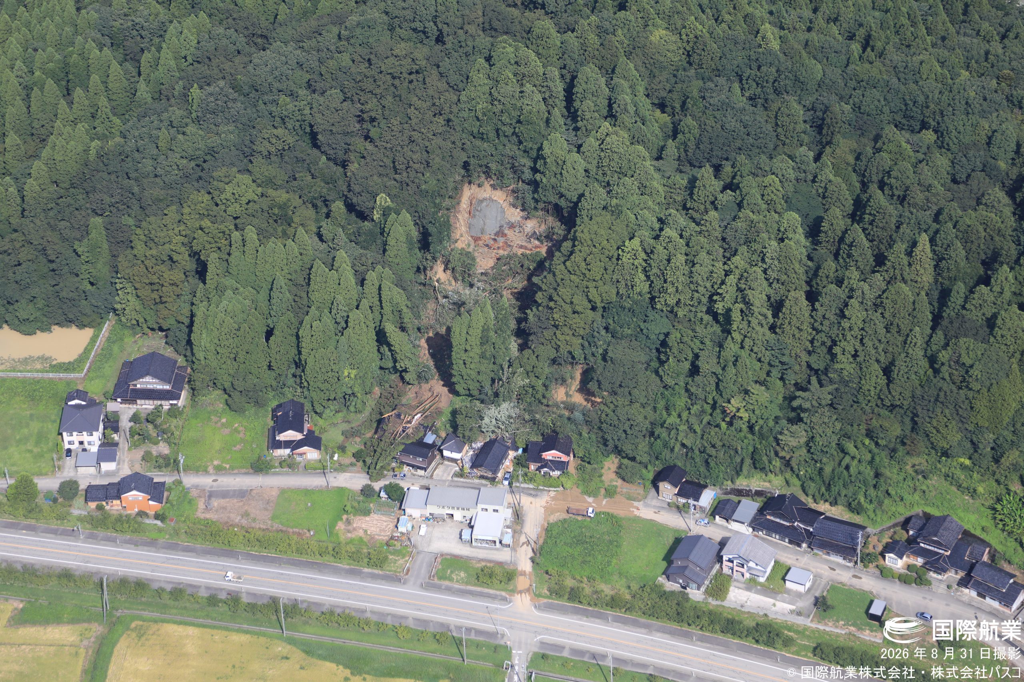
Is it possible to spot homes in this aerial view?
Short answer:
Yes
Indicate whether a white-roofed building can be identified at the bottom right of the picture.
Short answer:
Yes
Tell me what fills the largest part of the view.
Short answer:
trees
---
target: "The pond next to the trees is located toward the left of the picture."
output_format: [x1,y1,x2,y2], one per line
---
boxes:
[0,320,93,369]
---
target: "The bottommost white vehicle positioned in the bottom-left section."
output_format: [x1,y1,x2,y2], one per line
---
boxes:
[225,570,246,583]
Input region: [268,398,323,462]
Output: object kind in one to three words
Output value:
house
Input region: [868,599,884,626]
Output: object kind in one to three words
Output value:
shed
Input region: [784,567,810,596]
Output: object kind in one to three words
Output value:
building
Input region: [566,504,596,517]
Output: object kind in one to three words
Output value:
vehicle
